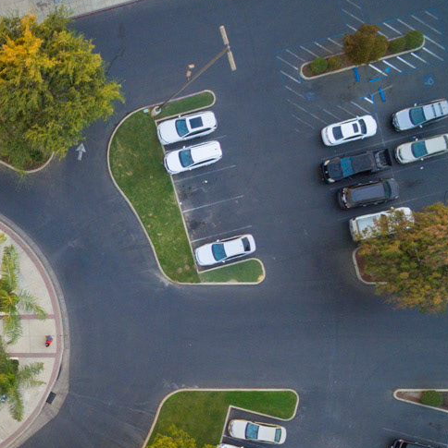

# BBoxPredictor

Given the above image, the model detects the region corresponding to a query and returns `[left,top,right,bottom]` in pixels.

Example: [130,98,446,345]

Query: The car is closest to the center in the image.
[191,234,254,268]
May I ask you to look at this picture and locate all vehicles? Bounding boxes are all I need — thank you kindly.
[224,417,285,446]
[343,206,415,244]
[331,176,396,211]
[315,114,375,149]
[154,110,217,147]
[160,142,223,176]
[315,144,395,186]
[390,134,448,167]
[191,234,254,268]
[386,99,448,135]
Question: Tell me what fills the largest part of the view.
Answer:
paved ground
